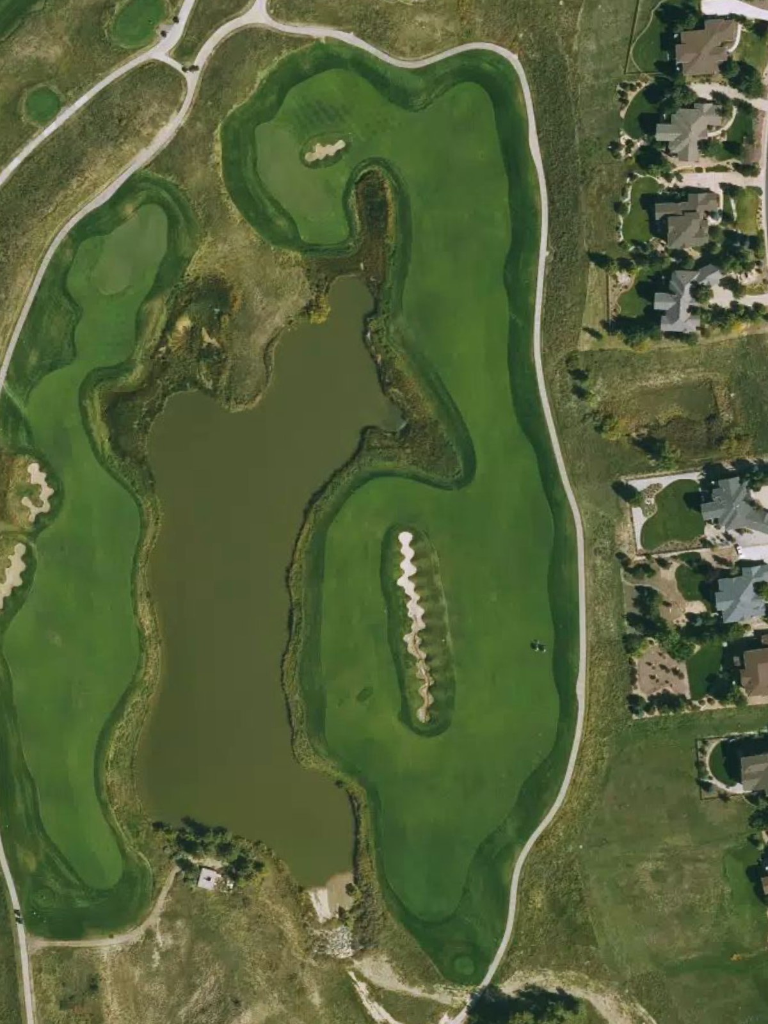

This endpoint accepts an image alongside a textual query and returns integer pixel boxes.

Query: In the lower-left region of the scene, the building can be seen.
[197,868,218,891]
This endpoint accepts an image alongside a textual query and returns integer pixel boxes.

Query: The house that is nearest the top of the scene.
[678,17,739,73]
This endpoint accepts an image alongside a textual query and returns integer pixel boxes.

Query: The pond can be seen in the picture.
[136,275,406,888]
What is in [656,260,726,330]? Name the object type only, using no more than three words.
house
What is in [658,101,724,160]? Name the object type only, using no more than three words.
house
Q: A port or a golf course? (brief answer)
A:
golf course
